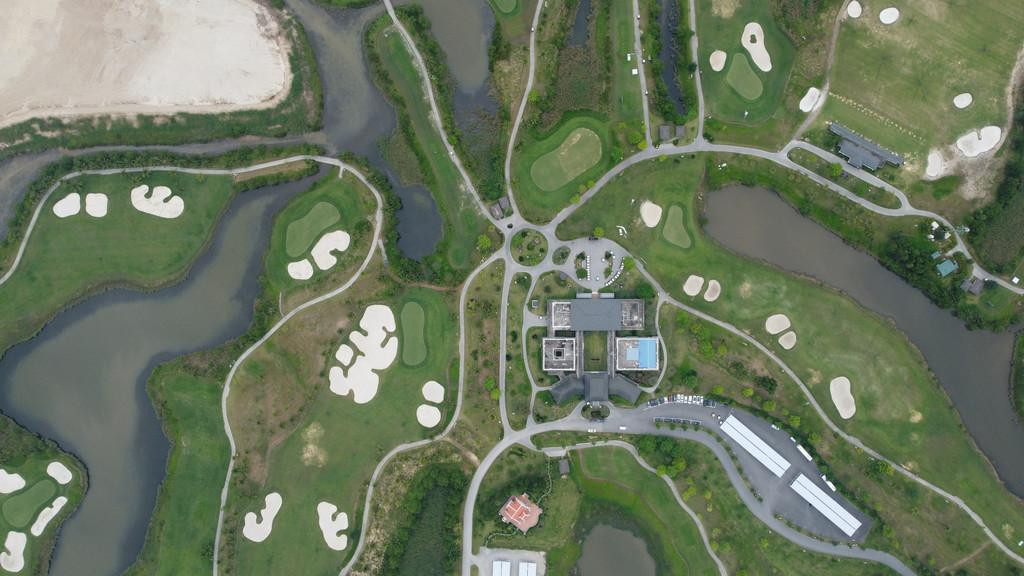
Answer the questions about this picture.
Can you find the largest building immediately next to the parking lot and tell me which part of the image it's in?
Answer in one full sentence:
The largest building immediately next to the parking lot is in the center part of the image.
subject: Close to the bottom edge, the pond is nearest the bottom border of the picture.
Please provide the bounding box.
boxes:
[578,523,657,576]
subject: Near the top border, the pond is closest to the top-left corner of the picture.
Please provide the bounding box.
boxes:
[416,0,496,148]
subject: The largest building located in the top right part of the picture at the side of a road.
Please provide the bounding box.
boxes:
[826,122,903,172]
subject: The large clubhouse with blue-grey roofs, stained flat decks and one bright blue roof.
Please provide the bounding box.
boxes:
[543,292,658,406]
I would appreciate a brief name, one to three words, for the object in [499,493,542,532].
house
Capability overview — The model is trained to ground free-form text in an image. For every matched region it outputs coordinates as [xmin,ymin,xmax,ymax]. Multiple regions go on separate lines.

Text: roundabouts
[505,221,555,271]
